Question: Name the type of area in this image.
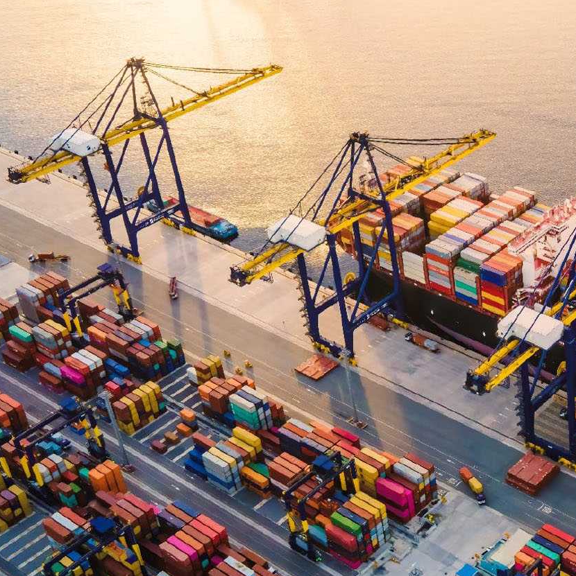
port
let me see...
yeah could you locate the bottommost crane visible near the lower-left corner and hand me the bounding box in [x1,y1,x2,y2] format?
[45,513,157,576]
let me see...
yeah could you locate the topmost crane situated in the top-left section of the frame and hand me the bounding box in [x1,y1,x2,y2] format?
[5,53,283,262]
